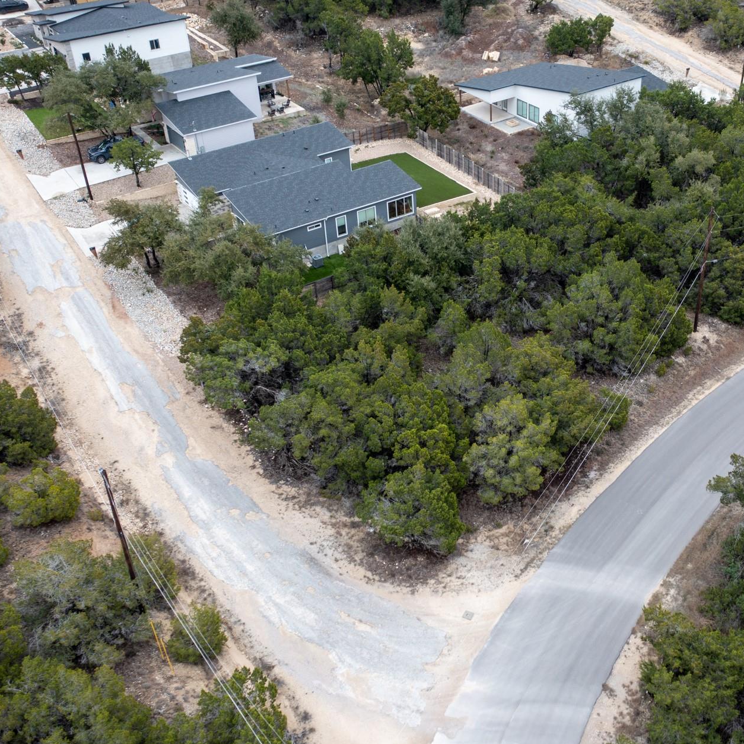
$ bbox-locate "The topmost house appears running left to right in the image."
[25,0,191,68]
